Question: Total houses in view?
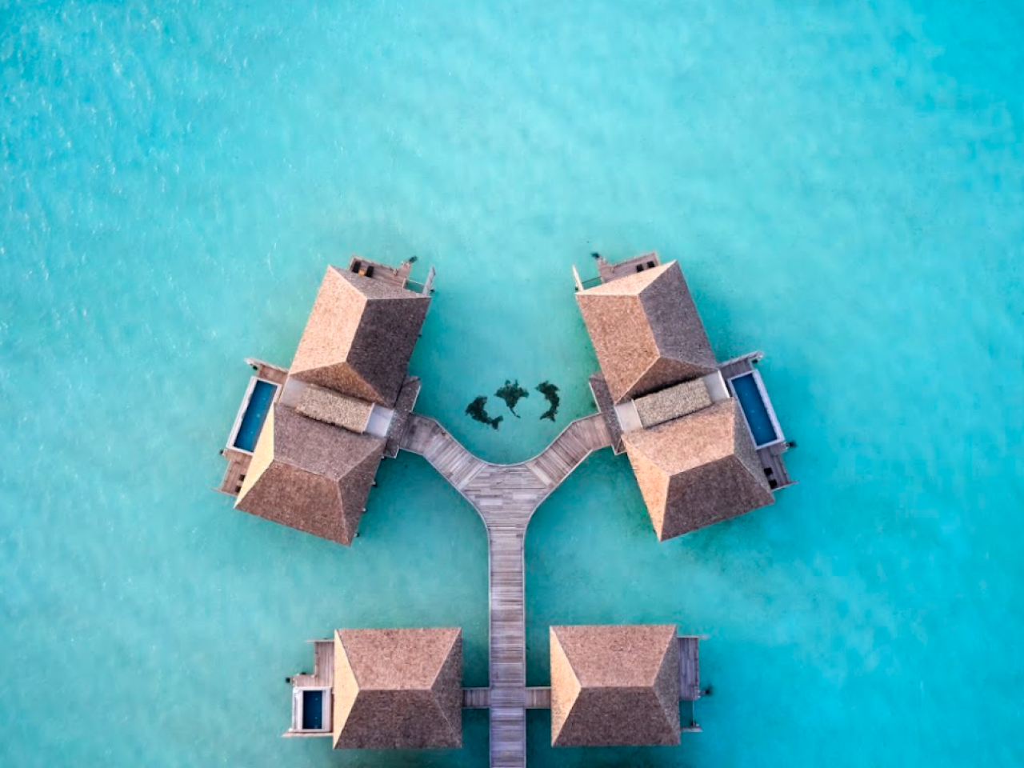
4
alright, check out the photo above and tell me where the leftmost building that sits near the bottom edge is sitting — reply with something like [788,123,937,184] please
[281,626,463,751]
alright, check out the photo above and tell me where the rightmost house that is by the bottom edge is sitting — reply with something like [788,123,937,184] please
[549,625,709,747]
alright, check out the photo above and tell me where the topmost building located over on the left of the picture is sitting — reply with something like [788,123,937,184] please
[212,255,435,546]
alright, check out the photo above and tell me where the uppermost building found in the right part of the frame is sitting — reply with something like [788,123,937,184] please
[571,252,796,542]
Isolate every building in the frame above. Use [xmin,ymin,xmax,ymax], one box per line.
[212,255,435,546]
[549,625,709,747]
[571,252,796,542]
[281,626,463,751]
